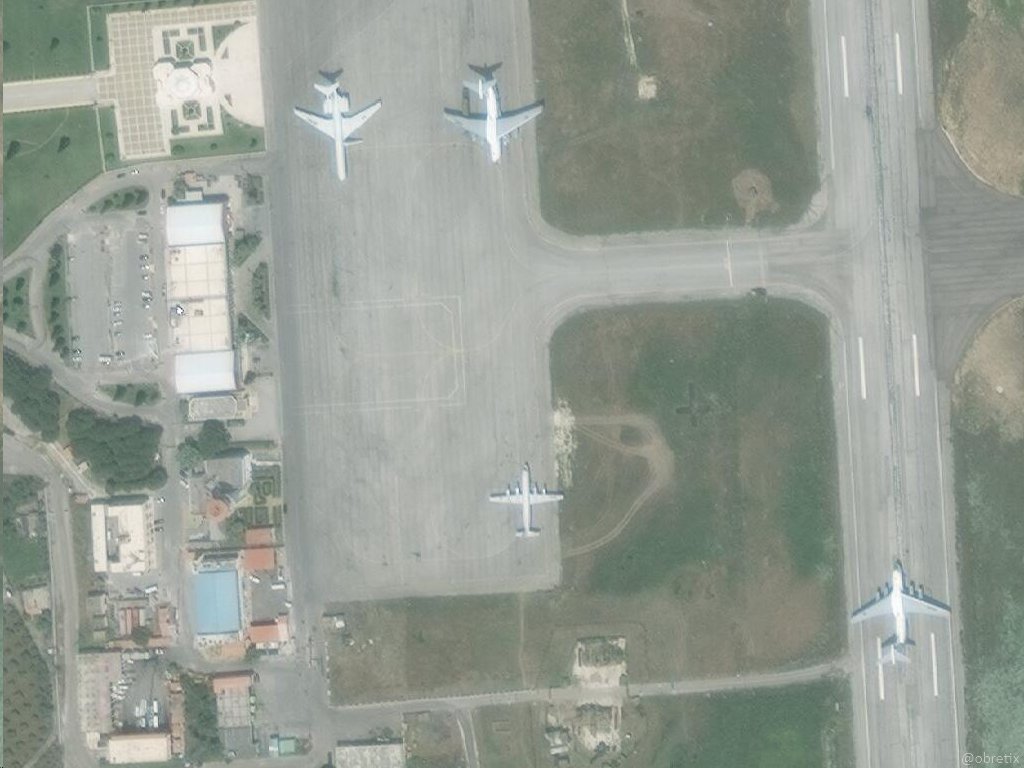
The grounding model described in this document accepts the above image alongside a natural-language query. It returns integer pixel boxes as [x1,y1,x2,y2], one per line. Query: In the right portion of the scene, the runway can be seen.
[825,0,959,768]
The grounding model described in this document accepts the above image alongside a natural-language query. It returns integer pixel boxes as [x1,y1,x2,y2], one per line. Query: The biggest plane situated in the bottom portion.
[849,559,949,663]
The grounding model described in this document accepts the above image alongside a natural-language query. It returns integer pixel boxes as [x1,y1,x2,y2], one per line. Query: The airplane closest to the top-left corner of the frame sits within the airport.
[295,81,380,180]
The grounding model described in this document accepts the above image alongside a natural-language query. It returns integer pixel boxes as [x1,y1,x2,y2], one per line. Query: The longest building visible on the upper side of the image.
[165,198,244,393]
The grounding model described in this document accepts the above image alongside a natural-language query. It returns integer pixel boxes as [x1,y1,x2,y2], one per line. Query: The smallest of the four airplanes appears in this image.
[489,462,563,541]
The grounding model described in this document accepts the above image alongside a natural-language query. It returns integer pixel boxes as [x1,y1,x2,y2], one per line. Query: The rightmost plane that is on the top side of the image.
[442,75,542,162]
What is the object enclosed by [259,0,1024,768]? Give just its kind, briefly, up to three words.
airport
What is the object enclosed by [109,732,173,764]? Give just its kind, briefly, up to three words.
building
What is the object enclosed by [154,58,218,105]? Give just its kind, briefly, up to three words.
building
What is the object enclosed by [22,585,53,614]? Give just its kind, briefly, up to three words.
house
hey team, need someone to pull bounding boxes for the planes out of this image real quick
[295,81,380,180]
[849,559,949,663]
[442,75,542,162]
[489,462,563,541]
